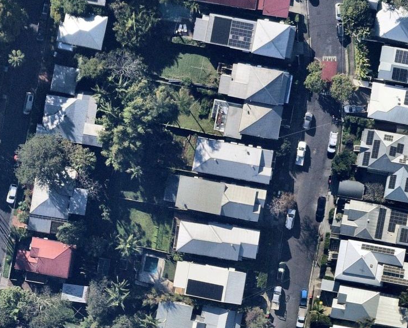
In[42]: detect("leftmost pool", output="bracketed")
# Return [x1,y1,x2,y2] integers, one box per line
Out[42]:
[141,254,165,278]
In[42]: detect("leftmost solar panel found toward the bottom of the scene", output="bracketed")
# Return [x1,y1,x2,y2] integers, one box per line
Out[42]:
[186,279,223,300]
